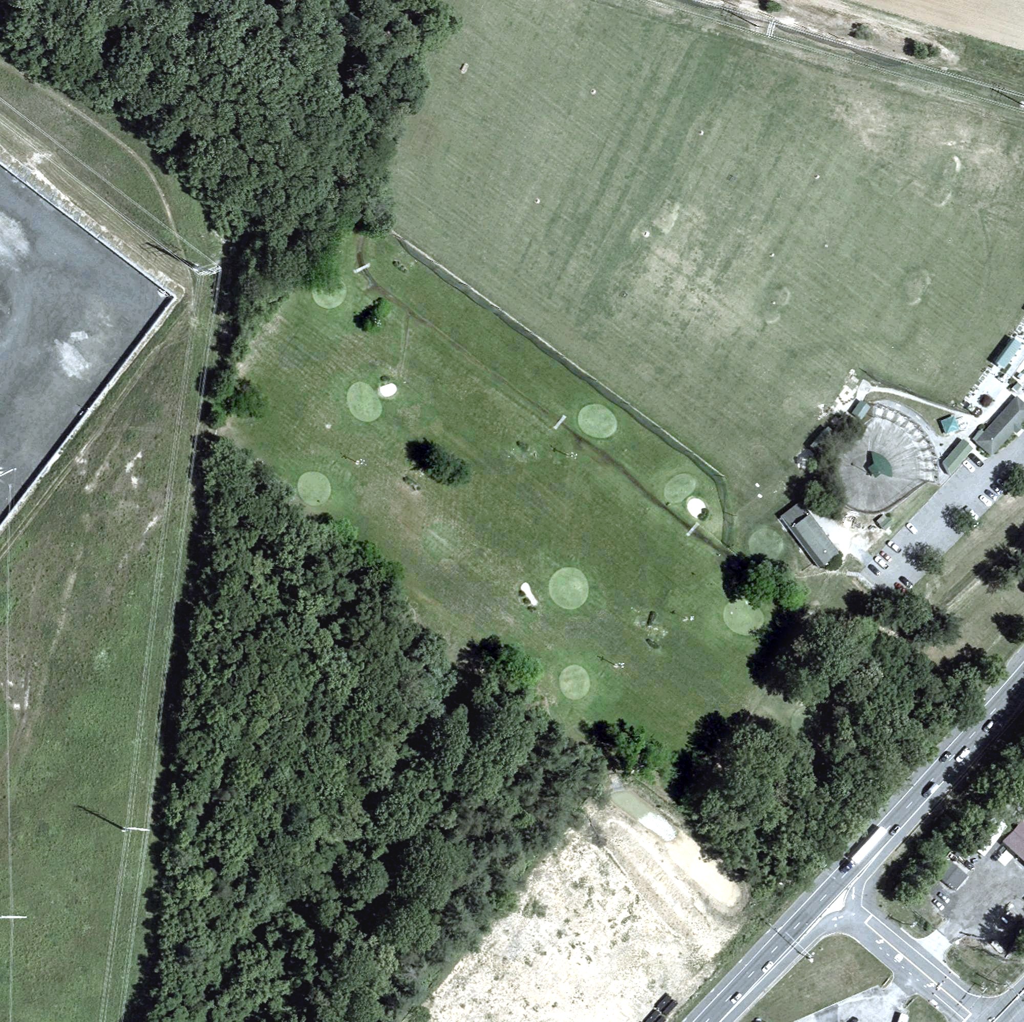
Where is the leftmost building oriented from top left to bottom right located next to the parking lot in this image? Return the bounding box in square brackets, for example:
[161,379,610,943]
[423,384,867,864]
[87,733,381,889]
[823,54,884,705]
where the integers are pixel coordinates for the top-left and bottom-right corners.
[781,514,839,566]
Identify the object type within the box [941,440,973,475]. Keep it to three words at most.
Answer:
building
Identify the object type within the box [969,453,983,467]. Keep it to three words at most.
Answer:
car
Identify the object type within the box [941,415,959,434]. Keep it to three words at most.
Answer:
gazebo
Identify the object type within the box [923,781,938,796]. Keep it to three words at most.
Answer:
vehicle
